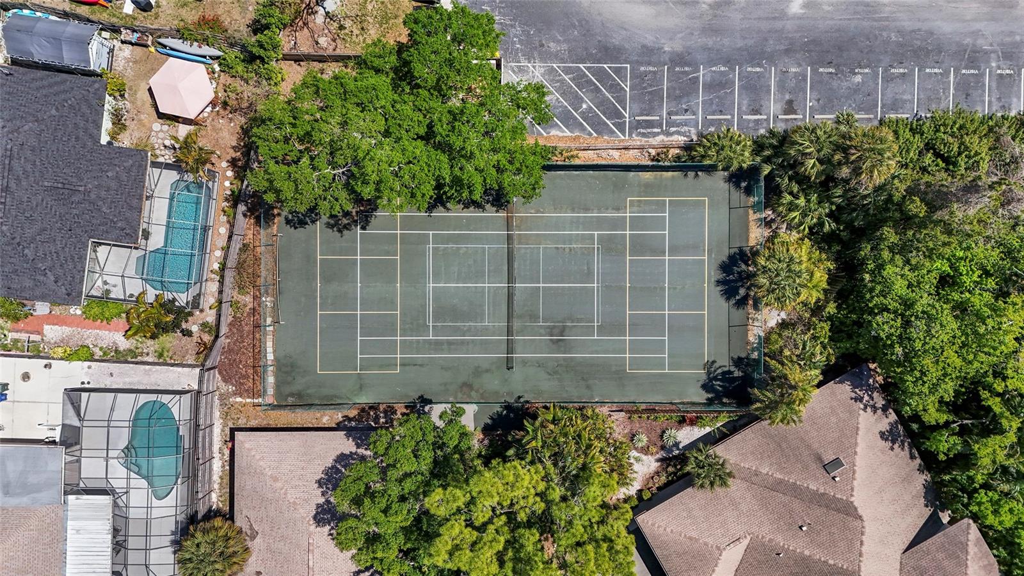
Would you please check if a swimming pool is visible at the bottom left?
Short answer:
Yes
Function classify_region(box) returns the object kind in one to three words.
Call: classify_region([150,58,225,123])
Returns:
gazebo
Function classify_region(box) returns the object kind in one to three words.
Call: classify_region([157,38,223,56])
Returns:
boat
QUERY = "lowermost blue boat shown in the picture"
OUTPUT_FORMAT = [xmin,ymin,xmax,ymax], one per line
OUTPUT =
[156,48,211,62]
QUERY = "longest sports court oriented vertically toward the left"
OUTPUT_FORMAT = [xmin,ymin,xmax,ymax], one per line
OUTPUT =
[318,199,399,373]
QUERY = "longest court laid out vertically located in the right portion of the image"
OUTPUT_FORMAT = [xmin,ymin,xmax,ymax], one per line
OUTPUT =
[628,198,707,372]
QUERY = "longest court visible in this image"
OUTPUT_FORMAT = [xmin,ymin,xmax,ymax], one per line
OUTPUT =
[275,171,748,404]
